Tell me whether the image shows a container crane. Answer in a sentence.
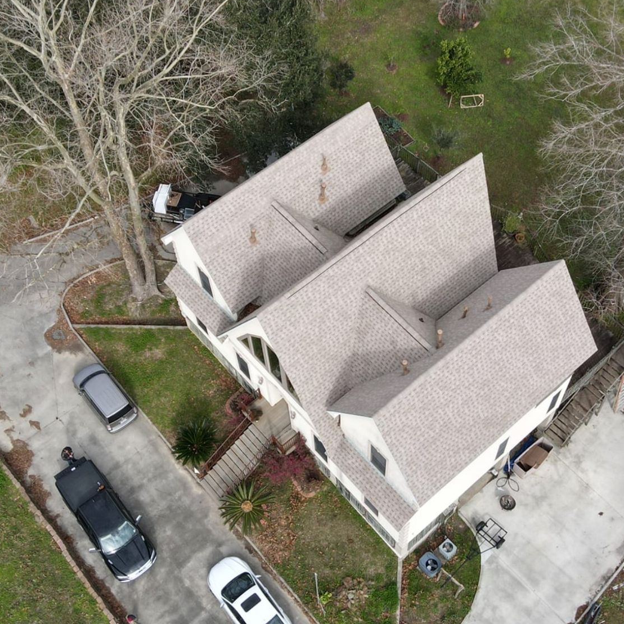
No, I can see no container crane in this picture.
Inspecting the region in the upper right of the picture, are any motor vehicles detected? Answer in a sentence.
No, there's no motor vehicle to be seen in the upper right of the picture.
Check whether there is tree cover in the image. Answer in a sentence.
Yes, tree cover can be seen from above here.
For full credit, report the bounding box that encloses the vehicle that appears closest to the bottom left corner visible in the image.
[53,452,156,581]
